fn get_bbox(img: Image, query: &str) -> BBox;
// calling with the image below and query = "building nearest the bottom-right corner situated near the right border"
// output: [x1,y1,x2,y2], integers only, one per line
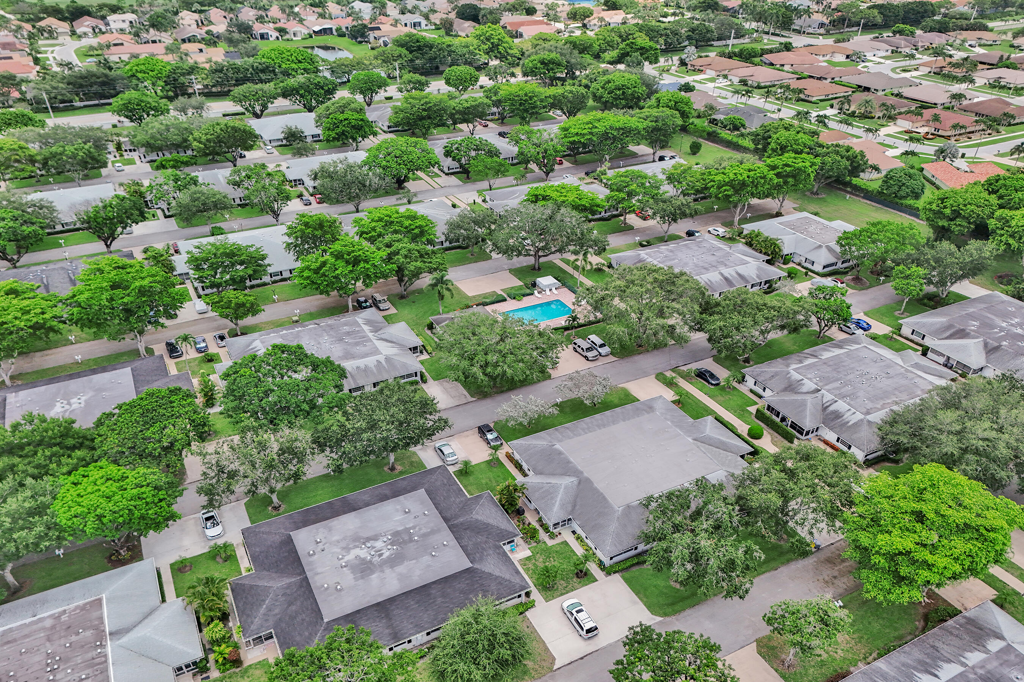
[841,599,1024,682]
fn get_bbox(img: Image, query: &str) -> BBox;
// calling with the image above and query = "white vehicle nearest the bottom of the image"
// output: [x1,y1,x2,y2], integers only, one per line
[559,592,603,640]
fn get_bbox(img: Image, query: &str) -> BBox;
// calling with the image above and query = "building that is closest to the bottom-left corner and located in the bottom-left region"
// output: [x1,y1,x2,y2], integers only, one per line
[0,557,203,682]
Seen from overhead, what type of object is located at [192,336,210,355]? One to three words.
car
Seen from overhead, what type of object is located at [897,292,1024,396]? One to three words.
house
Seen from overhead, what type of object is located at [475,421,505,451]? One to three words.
car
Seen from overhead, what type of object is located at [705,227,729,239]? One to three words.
vehicle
